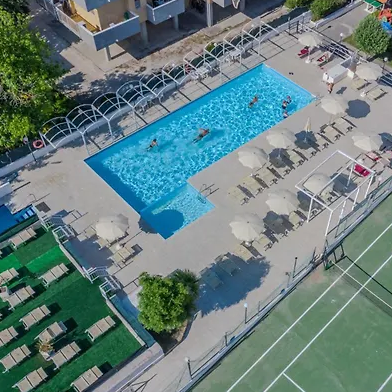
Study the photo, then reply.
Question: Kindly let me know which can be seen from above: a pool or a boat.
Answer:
pool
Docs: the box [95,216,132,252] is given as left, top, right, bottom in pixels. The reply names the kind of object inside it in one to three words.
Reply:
umbrella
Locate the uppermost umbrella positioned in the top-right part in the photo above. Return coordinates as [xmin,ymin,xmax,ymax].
[297,34,322,63]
